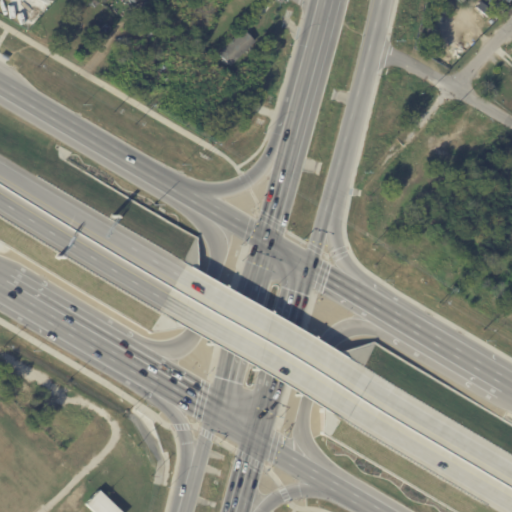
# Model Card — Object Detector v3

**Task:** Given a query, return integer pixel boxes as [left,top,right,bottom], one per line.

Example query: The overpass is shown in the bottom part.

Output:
[158,262,378,423]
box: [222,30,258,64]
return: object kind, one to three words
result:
house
